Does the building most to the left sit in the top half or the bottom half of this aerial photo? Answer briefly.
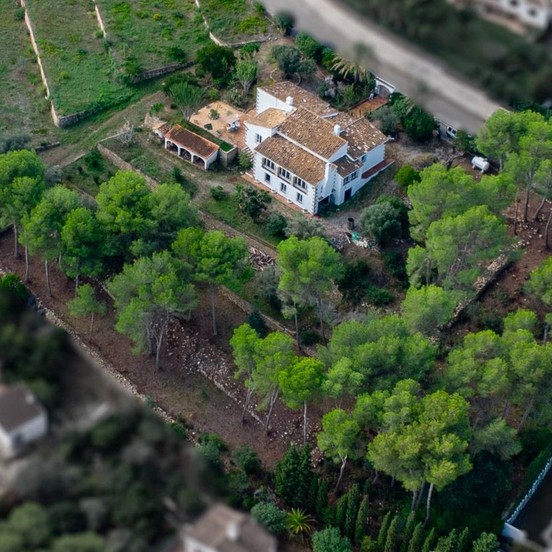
bottom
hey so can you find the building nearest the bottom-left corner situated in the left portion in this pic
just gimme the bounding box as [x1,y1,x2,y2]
[0,385,49,444]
